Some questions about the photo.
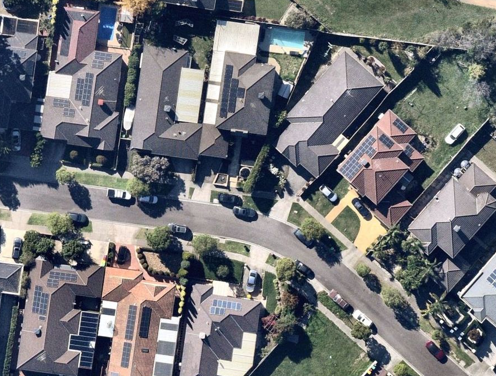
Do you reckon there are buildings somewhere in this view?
Yes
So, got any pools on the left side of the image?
Yes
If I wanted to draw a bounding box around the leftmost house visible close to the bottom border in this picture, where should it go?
[17,256,106,376]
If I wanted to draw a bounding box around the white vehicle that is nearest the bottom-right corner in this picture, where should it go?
[353,309,374,328]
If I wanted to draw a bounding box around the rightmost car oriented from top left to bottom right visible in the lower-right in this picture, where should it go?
[426,343,445,362]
